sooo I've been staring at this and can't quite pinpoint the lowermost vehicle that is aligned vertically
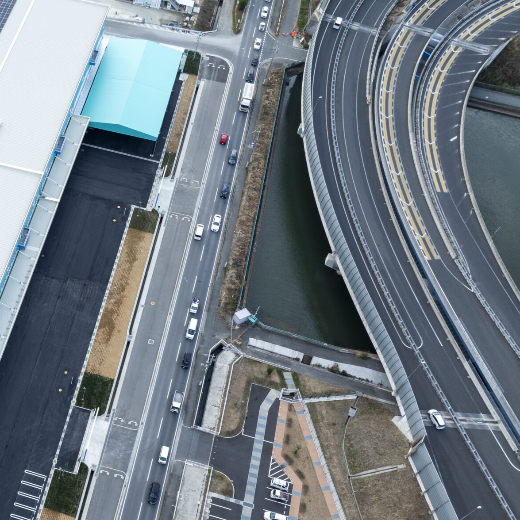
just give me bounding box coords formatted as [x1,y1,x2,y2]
[146,482,160,506]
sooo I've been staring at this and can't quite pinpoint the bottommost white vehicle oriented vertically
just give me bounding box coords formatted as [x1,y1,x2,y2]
[157,443,170,468]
